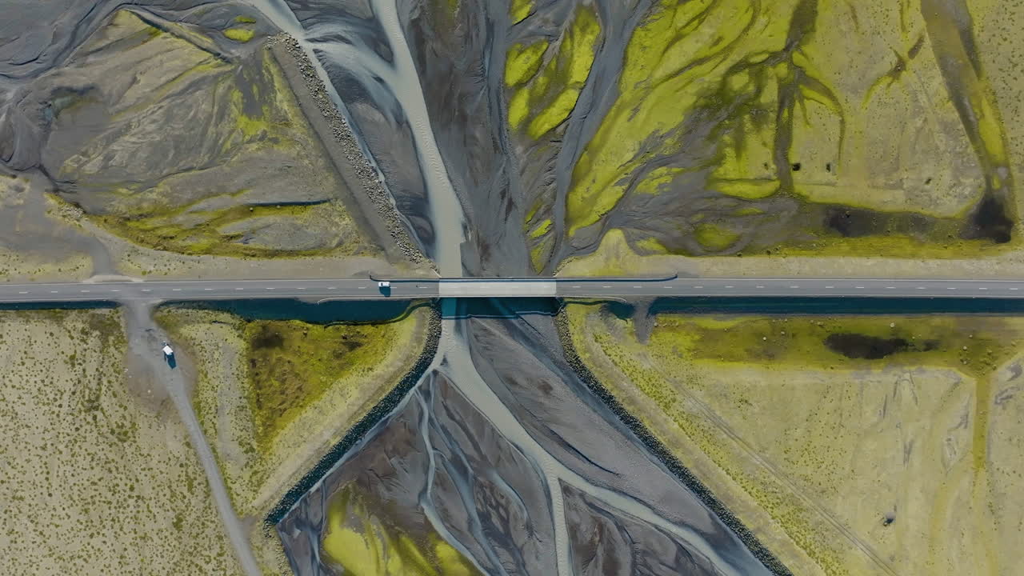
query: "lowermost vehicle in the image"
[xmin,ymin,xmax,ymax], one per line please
[161,342,174,356]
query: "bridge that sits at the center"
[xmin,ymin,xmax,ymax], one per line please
[433,270,556,297]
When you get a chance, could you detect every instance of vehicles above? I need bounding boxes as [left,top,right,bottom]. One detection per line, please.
[161,342,174,356]
[378,282,390,287]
